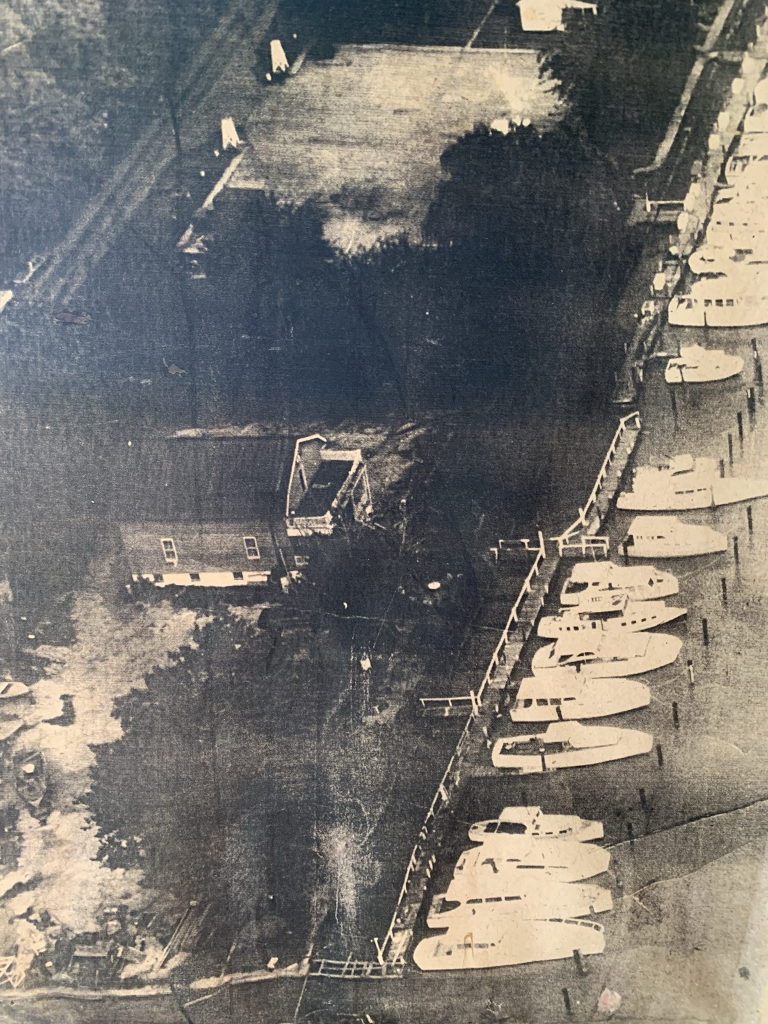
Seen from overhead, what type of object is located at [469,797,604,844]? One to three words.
boat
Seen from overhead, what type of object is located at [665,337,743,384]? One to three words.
boat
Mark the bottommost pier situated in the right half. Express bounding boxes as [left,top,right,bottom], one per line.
[384,556,564,977]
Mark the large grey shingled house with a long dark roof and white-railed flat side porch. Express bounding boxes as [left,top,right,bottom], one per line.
[112,432,382,583]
